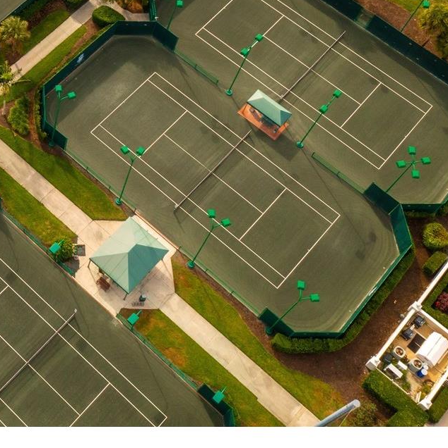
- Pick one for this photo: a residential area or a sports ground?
sports ground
